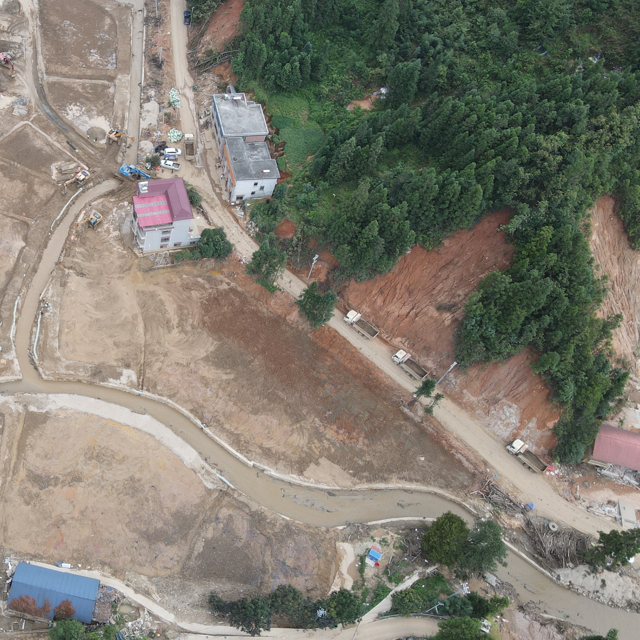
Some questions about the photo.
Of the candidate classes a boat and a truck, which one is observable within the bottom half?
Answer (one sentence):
The one visible within the bottom half is a truck.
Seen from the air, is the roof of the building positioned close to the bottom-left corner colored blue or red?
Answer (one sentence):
The color of the roof of the building positioned close to the bottom-left corner is blue.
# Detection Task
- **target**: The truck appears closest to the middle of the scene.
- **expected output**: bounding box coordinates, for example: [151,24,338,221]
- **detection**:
[342,303,386,337]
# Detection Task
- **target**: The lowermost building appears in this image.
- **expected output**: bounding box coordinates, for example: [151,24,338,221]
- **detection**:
[10,562,117,627]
